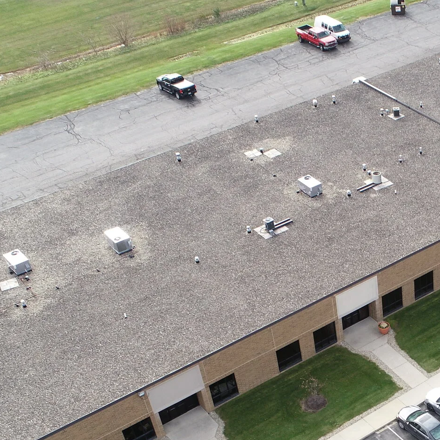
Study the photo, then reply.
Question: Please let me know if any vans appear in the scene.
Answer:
Yes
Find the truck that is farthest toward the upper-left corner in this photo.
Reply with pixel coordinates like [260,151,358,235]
[154,73,200,101]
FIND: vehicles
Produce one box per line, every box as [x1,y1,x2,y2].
[395,407,440,440]
[154,73,200,101]
[293,25,339,51]
[311,11,353,40]
[426,390,440,415]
